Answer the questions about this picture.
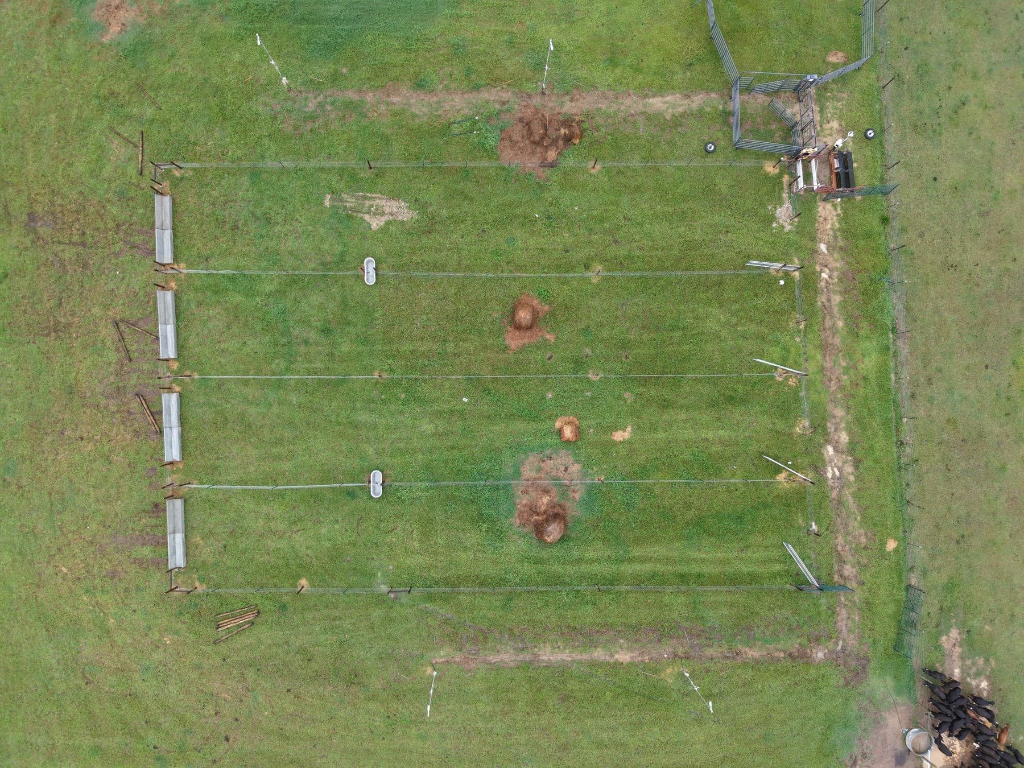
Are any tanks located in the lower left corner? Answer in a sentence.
No, there is no tank in the lower left corner.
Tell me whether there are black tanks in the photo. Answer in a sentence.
No, there's no black tank here.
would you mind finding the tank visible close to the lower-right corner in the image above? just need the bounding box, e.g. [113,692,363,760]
[906,729,936,758]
